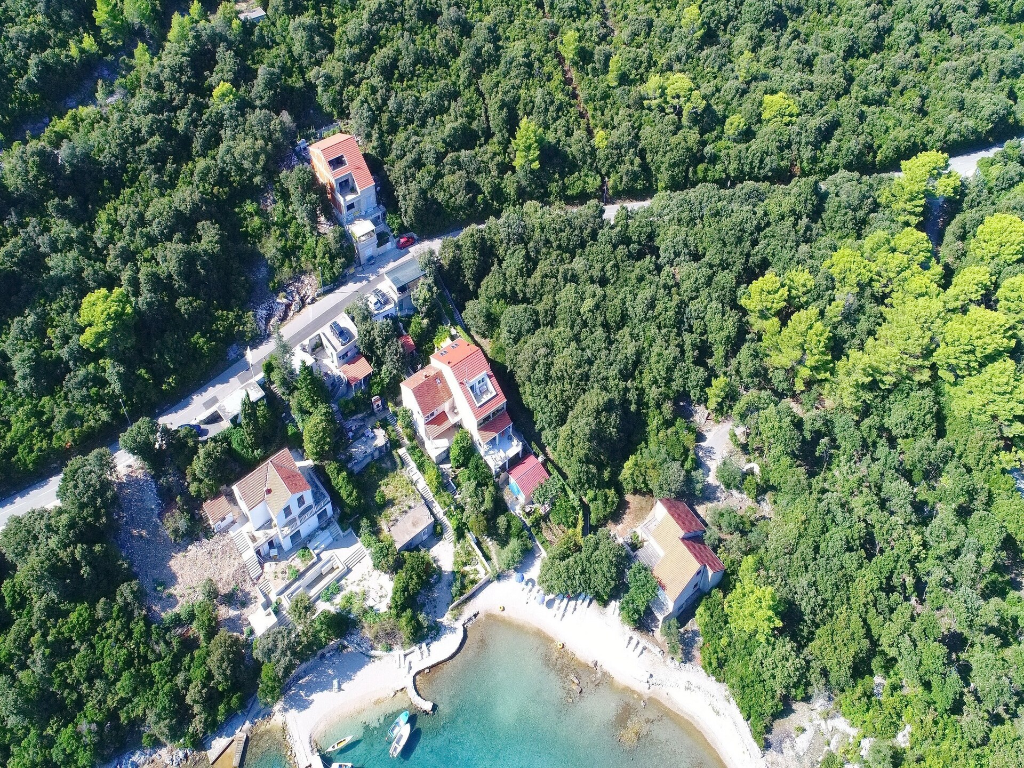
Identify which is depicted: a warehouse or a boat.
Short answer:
boat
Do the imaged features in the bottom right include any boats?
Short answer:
No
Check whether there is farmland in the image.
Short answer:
No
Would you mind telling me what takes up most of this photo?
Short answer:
trees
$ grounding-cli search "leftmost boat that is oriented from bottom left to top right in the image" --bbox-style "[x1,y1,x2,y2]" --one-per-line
[326,734,353,753]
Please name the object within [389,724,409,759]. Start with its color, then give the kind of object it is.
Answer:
white boat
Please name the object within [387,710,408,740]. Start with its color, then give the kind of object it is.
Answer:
white boat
